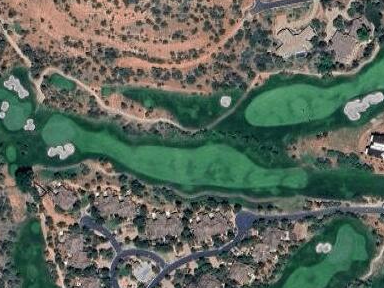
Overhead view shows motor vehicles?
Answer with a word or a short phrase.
No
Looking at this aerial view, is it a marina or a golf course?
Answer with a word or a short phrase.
golf course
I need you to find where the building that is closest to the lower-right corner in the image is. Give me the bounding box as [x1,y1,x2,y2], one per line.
[285,217,312,243]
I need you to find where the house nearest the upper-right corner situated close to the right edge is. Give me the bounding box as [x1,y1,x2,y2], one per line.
[328,15,375,62]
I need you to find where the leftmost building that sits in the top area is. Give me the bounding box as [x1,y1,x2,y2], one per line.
[277,26,316,57]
